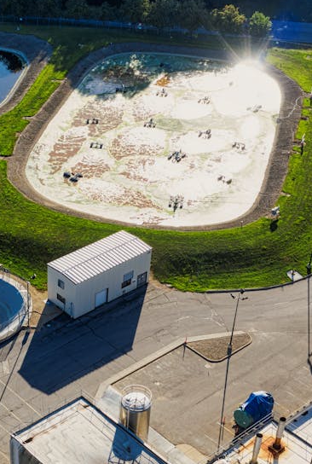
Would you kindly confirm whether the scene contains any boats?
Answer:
No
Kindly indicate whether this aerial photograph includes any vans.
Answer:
No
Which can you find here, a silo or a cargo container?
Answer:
silo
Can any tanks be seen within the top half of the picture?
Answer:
No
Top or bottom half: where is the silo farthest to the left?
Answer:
bottom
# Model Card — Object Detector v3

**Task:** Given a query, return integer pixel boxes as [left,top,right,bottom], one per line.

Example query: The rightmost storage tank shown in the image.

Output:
[236,394,277,432]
